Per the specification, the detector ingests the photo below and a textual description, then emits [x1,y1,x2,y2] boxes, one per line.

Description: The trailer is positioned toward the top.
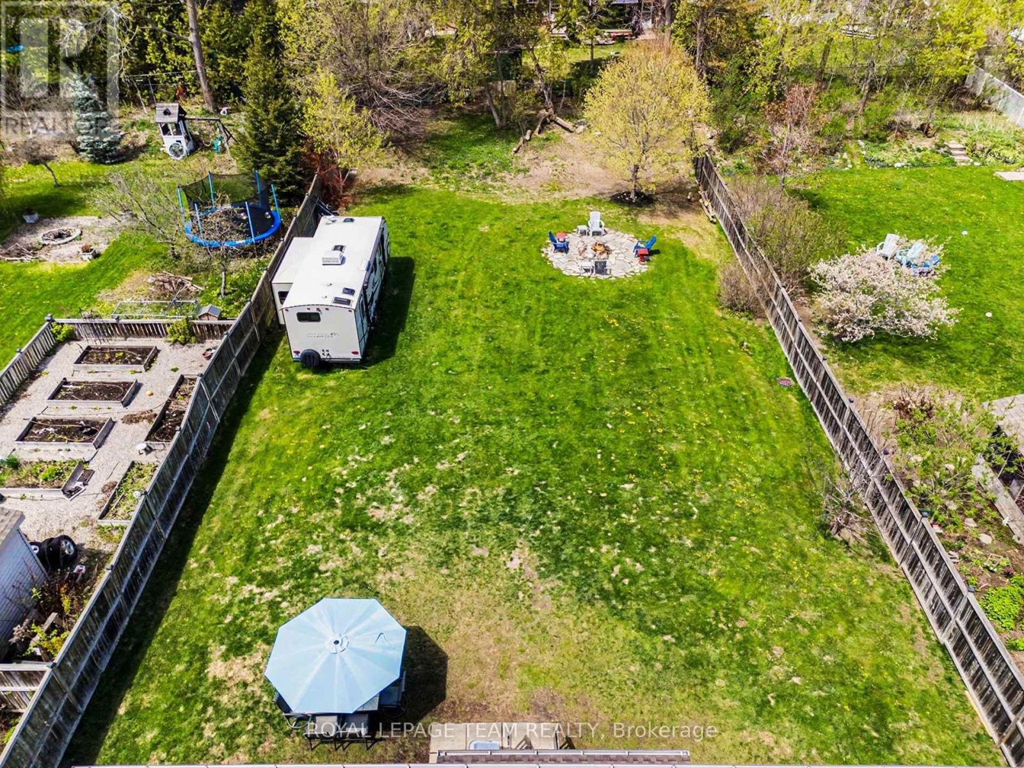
[265,215,389,370]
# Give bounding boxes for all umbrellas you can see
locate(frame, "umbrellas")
[263,600,409,724]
